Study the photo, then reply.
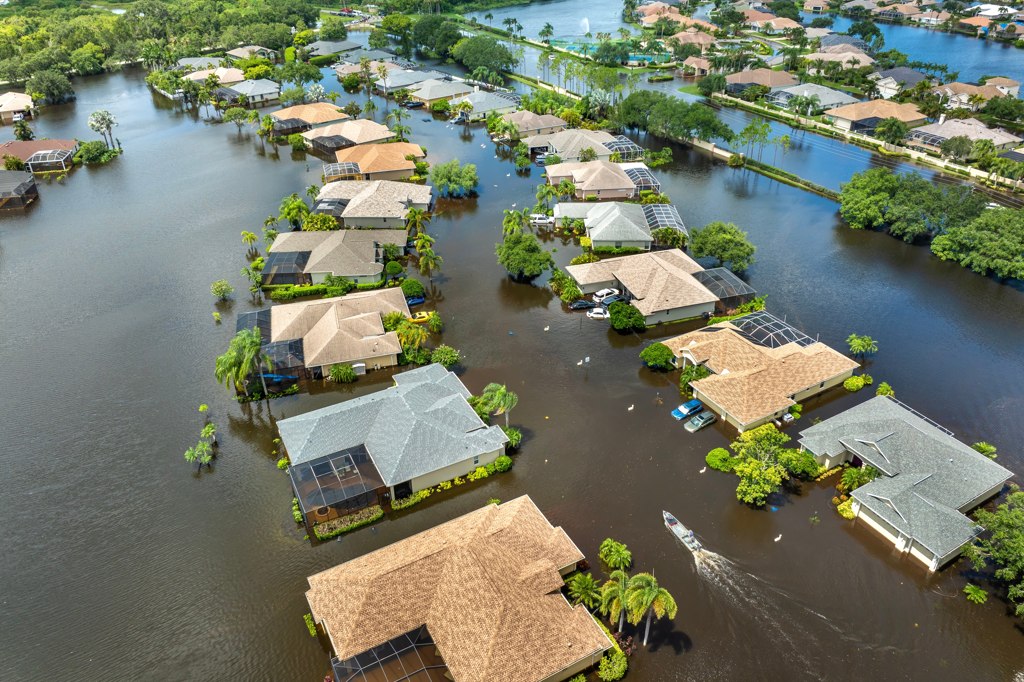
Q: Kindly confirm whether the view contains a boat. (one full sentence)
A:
Yes, there's a boat here.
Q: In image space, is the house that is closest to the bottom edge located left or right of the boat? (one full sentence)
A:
From the viewer's perspective, the house that is closest to the bottom edge falls to the left of the boat.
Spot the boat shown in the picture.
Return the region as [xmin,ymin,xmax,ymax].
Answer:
[663,509,705,556]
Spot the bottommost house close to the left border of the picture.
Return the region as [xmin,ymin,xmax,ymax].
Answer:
[0,165,40,207]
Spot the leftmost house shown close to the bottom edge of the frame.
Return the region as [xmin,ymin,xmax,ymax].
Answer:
[304,494,614,682]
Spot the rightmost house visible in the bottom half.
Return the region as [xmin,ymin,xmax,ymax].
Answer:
[796,394,1015,567]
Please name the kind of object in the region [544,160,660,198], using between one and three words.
house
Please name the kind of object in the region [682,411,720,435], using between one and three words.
car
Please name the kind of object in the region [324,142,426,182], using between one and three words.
house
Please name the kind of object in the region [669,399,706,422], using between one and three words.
car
